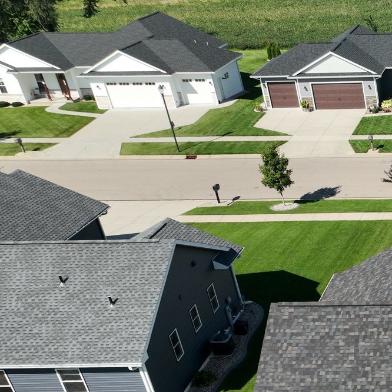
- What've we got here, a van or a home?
home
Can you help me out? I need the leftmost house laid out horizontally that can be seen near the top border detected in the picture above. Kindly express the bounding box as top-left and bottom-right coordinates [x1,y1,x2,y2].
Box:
[0,12,247,109]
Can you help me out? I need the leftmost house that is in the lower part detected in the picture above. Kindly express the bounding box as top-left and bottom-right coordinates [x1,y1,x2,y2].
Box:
[0,169,252,392]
